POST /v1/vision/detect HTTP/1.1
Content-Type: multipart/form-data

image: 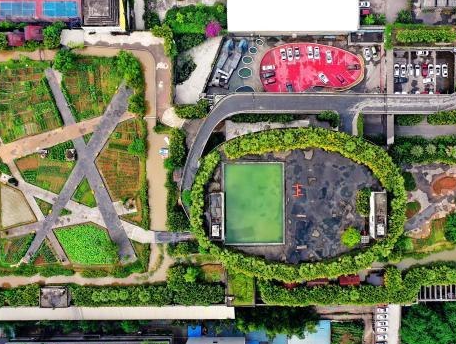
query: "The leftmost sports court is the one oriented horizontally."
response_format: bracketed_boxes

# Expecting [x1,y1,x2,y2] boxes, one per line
[0,1,36,18]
